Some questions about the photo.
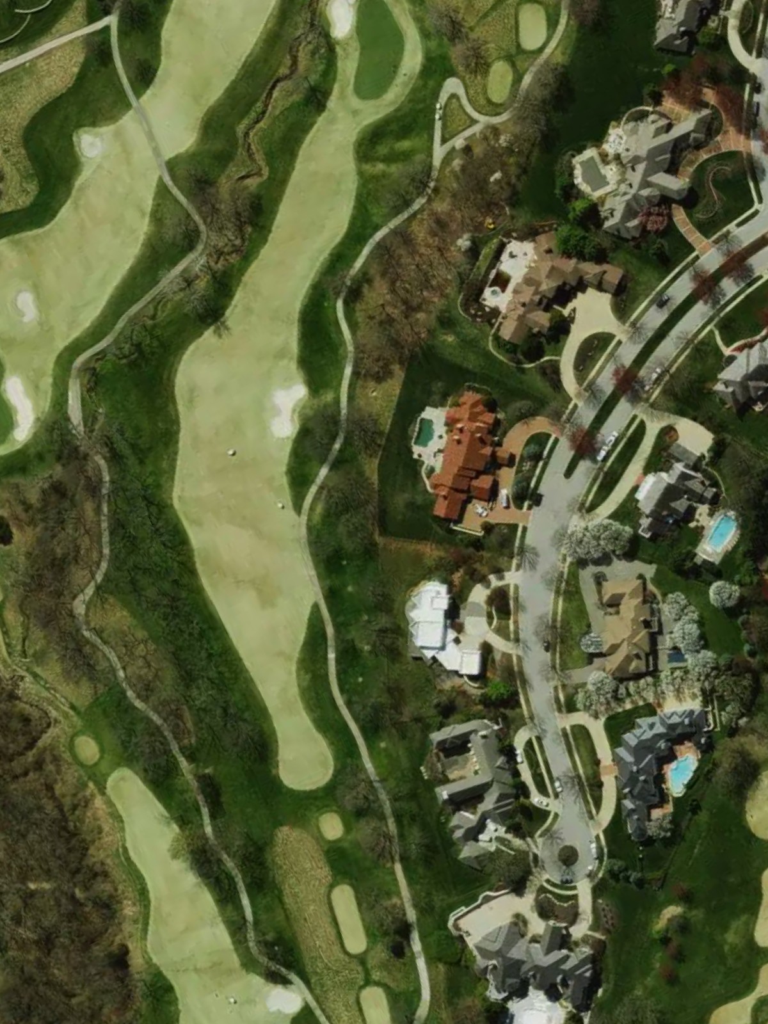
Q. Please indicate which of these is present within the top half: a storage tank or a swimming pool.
swimming pool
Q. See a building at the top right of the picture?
Yes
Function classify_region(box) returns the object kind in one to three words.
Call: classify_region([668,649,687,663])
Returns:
swimming pool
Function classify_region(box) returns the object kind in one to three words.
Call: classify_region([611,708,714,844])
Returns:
house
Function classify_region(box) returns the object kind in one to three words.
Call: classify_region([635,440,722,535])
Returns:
house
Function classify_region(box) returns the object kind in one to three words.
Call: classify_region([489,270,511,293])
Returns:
swimming pool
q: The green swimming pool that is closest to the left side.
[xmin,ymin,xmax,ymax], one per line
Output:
[414,418,435,446]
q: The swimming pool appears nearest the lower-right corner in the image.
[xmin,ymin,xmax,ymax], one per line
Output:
[670,754,699,796]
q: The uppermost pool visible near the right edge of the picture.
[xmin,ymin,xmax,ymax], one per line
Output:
[695,511,741,561]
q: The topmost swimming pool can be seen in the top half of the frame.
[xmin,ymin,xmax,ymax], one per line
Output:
[579,156,608,192]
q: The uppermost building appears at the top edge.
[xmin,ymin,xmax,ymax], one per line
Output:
[648,0,719,56]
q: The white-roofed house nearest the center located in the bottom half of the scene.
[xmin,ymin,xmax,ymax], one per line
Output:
[409,579,482,676]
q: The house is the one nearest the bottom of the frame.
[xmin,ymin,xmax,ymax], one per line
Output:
[471,916,598,1014]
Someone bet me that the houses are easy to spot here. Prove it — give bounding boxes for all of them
[611,708,714,844]
[498,232,628,347]
[595,576,653,684]
[635,440,722,535]
[471,916,598,1014]
[648,0,719,56]
[428,714,518,873]
[409,579,482,676]
[607,107,717,241]
[429,388,512,523]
